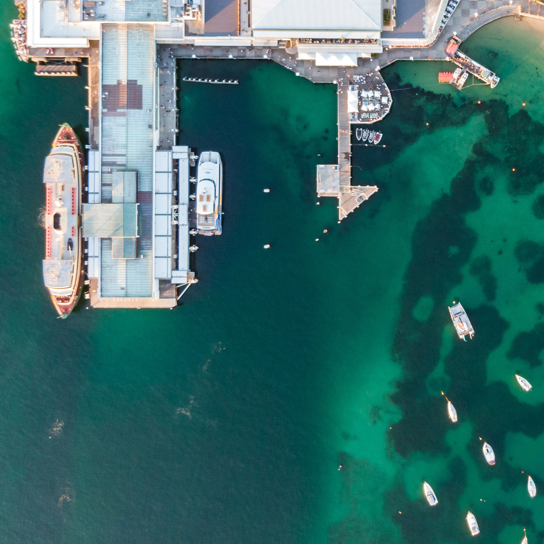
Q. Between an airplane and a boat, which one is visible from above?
boat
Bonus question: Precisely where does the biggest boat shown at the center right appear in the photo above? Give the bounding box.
[449,302,475,338]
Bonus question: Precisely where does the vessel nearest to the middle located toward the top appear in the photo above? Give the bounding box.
[196,152,221,235]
